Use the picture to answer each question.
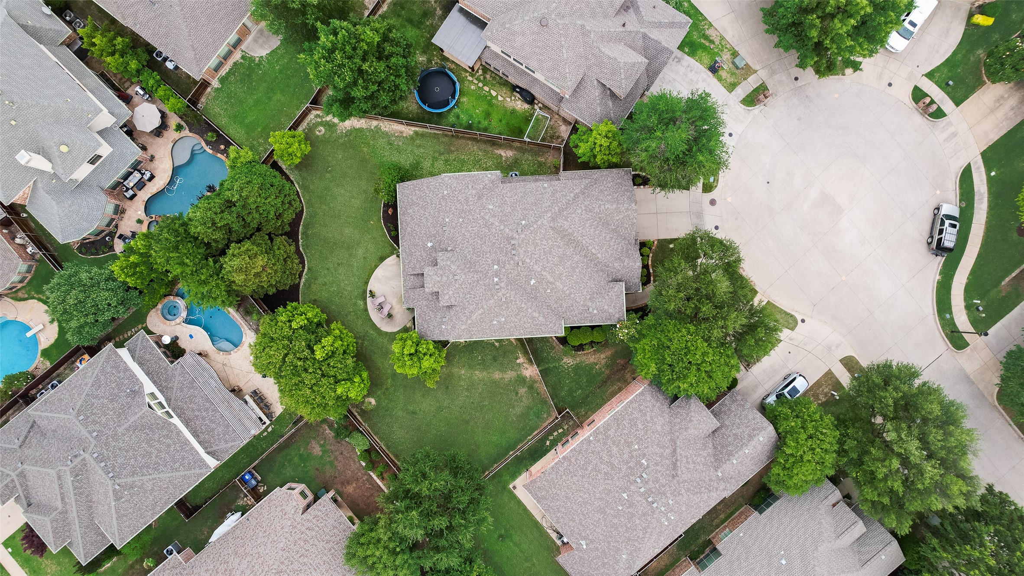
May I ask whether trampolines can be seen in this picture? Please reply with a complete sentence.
Yes, there is a trampoline in the image.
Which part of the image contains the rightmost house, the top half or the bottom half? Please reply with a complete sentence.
The rightmost house sits in the bottom half of the picture.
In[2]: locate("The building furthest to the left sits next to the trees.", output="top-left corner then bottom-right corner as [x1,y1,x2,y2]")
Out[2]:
[0,230,39,293]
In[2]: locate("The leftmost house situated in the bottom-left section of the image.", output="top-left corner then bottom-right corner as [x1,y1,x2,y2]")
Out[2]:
[0,329,246,565]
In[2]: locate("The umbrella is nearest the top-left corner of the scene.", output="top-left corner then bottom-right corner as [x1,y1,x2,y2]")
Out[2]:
[133,103,163,132]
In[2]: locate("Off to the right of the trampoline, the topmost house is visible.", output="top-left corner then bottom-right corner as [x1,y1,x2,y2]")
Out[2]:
[462,0,693,131]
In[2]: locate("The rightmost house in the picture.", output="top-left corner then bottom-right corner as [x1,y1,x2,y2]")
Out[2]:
[674,475,904,576]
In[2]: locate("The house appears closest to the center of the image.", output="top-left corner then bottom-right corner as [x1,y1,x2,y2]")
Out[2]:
[396,168,642,342]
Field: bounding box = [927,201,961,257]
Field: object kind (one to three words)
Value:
car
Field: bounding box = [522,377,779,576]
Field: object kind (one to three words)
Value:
house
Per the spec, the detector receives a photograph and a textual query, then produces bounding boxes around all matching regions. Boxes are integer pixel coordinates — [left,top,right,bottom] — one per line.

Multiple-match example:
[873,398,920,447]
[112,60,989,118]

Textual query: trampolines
[412,62,460,113]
